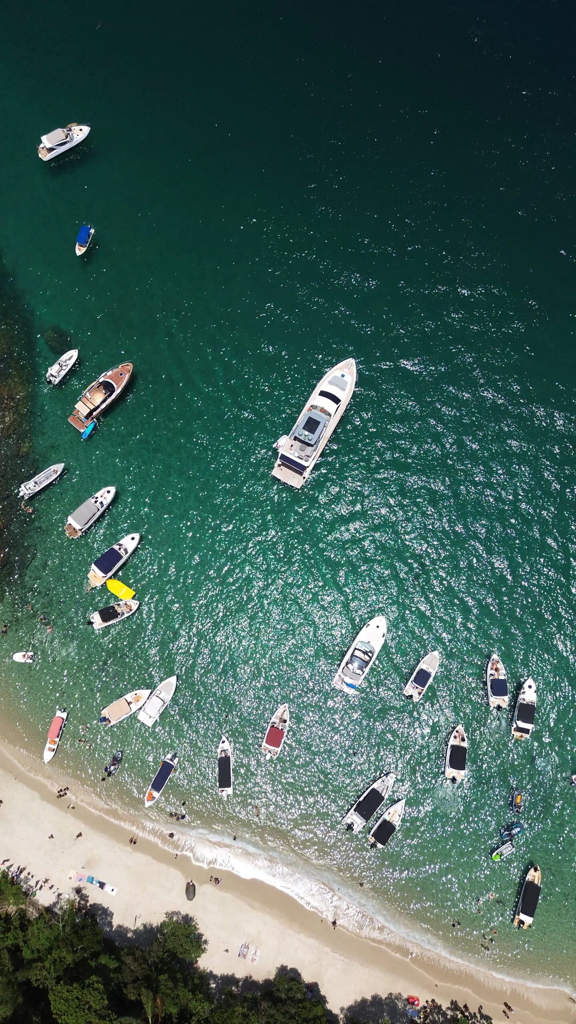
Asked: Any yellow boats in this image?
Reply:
Yes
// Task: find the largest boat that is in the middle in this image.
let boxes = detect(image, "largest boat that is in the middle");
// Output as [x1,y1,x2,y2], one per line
[271,354,358,489]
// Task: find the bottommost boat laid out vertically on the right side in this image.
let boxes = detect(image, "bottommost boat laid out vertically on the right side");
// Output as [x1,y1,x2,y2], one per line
[511,863,541,929]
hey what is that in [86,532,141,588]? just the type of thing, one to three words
boat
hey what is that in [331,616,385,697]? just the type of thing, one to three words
boat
